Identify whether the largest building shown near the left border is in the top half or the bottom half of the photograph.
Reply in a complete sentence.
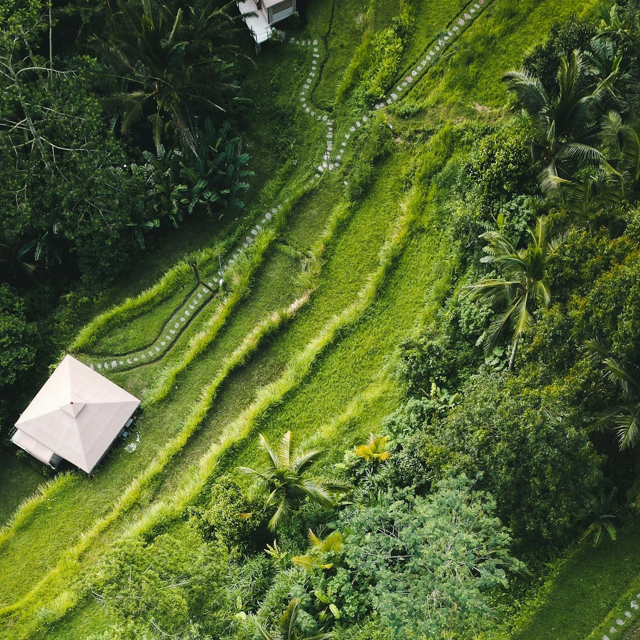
You can find the largest building shown near the left border in the bottom half.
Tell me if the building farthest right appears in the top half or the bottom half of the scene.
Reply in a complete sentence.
Seen from above, the building farthest right lies in the top half of the view.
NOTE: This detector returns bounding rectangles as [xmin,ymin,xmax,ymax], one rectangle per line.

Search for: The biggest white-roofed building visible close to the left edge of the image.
[8,358,142,476]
